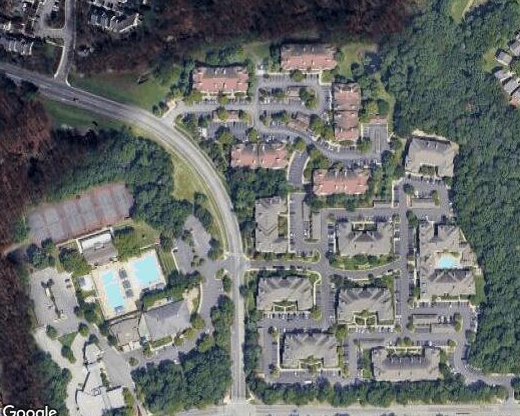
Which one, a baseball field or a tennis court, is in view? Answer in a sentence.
There is a tennis court in the scene.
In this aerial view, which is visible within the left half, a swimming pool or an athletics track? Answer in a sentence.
You can see a swimming pool within the left half.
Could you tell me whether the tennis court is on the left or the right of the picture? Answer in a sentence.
You can find the tennis court on the left side of the picture.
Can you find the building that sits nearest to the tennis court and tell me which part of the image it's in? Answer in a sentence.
The building that sits nearest to the tennis court is in the left part of the image.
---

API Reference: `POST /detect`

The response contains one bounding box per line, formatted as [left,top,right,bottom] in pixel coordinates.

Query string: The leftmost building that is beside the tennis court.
[81,233,118,265]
